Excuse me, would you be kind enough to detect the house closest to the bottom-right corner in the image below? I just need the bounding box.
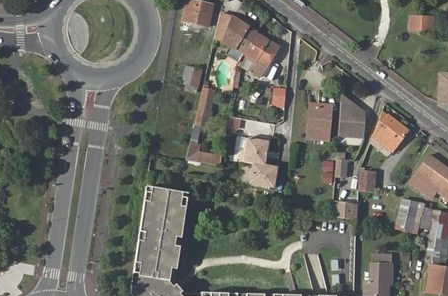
[424,264,448,296]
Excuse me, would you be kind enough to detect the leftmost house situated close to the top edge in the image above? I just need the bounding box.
[181,0,214,26]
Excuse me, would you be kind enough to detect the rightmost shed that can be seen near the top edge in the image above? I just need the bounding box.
[407,14,434,32]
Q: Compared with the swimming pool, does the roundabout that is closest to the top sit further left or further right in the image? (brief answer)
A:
on the left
